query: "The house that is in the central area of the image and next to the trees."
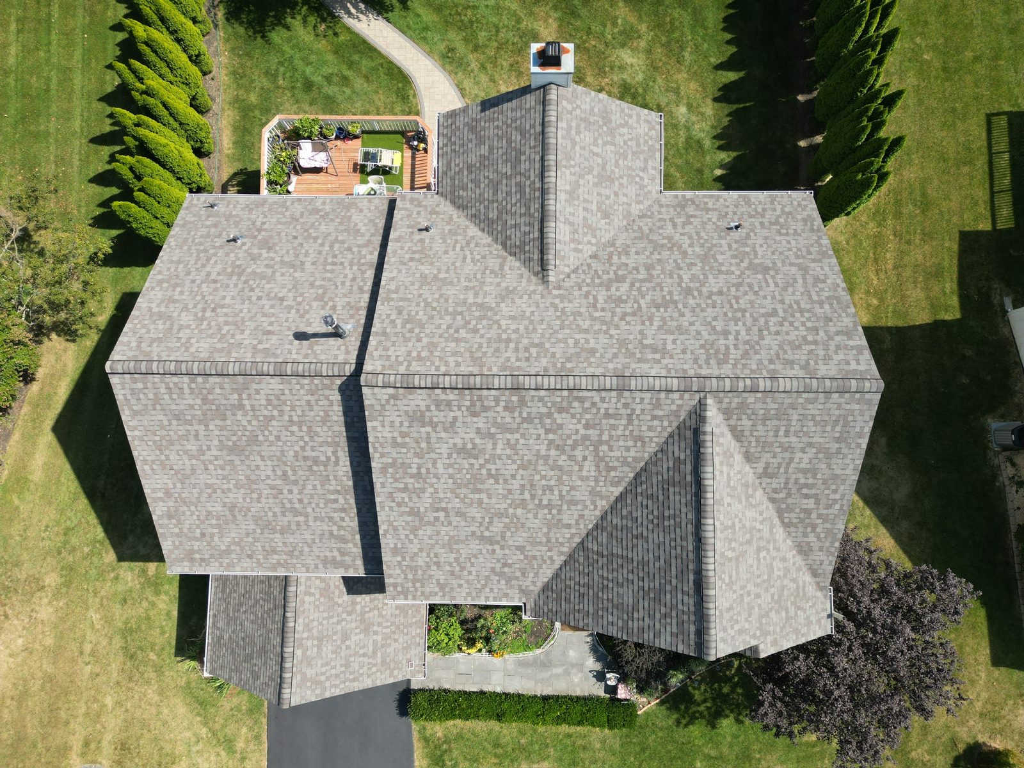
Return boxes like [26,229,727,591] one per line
[104,38,885,708]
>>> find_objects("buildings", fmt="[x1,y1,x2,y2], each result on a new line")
[104,38,885,708]
[1003,297,1024,387]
